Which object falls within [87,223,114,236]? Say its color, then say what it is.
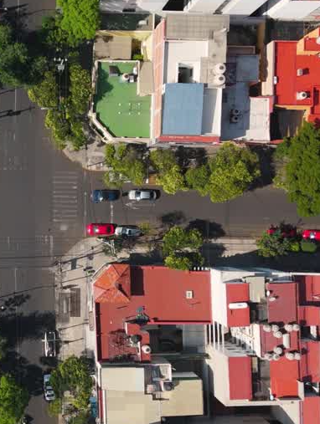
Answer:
red vehicle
